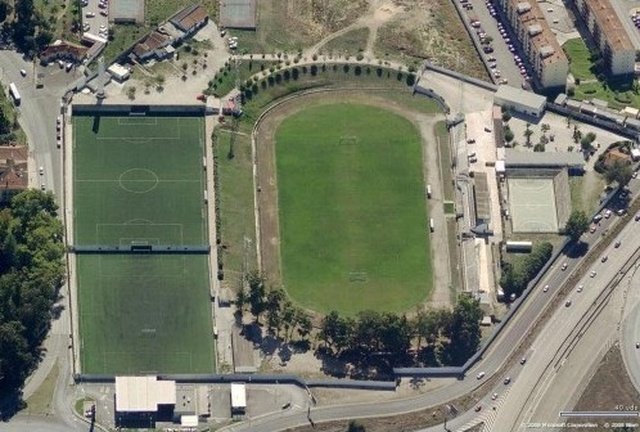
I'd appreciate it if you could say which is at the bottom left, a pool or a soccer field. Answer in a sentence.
The feature located at the bottom left is a soccer field.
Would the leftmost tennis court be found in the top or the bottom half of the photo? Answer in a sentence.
The leftmost tennis court sits in the top half of the picture.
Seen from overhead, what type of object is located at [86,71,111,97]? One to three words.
building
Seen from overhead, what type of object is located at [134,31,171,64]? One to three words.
building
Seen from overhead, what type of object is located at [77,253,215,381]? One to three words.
soccer field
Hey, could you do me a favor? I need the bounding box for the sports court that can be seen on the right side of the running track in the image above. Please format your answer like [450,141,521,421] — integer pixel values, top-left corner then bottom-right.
[508,179,559,233]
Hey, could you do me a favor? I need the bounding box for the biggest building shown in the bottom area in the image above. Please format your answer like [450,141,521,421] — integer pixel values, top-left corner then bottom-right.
[116,376,175,419]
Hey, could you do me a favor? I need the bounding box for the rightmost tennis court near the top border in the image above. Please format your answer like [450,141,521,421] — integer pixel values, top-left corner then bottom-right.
[220,0,256,29]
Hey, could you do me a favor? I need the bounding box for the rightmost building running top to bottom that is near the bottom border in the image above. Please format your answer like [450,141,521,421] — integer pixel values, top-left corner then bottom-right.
[231,383,246,413]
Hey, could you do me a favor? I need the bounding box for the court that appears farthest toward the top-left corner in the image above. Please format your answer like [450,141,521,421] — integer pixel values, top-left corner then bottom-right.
[109,0,145,23]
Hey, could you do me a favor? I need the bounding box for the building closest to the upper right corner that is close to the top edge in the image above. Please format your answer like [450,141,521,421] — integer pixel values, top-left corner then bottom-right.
[571,0,634,77]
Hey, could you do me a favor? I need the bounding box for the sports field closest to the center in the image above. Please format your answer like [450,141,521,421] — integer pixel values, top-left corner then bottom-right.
[275,103,433,321]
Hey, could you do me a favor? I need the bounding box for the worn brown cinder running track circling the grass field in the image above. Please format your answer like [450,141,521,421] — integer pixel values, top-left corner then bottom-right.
[253,90,453,336]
